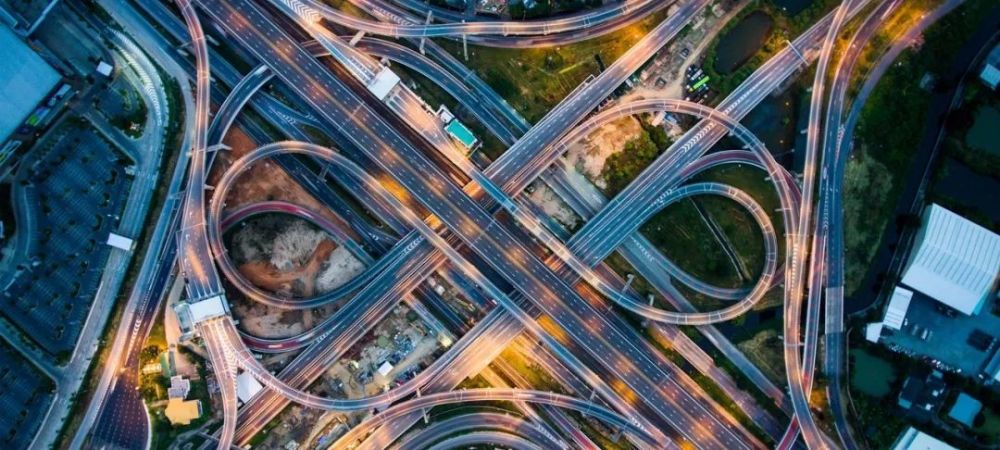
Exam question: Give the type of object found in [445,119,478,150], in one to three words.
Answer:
building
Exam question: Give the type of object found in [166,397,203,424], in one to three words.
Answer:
house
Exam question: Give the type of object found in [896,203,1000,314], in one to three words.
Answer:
building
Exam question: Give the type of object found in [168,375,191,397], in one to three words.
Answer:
house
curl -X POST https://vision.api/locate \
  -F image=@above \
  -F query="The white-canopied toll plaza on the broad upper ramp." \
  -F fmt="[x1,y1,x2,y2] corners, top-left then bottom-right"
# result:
[365,64,404,107]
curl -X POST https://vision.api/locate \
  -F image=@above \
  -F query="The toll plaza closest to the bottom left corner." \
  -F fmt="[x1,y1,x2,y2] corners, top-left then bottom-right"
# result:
[190,288,231,327]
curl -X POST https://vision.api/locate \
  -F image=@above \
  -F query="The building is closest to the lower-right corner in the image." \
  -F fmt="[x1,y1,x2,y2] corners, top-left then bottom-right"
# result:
[945,391,981,426]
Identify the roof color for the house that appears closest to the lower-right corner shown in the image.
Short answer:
blue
